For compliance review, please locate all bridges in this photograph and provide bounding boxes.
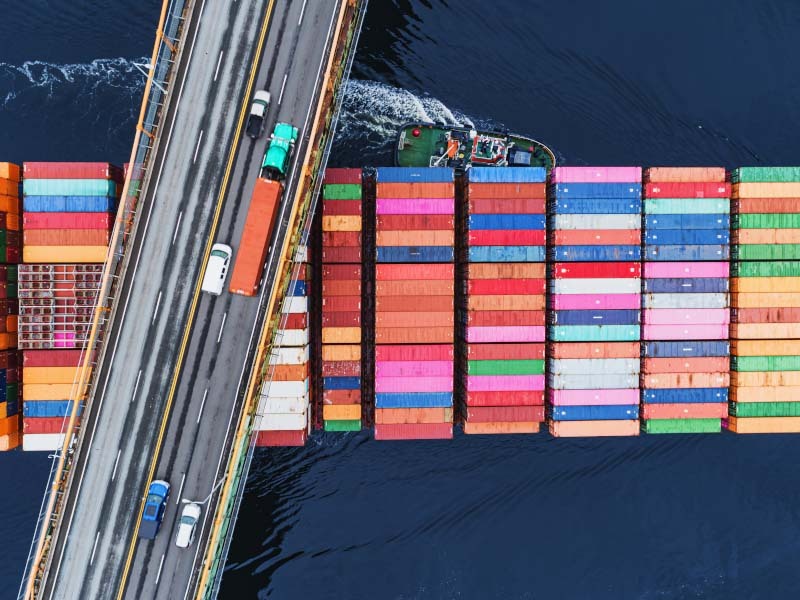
[14,0,377,600]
